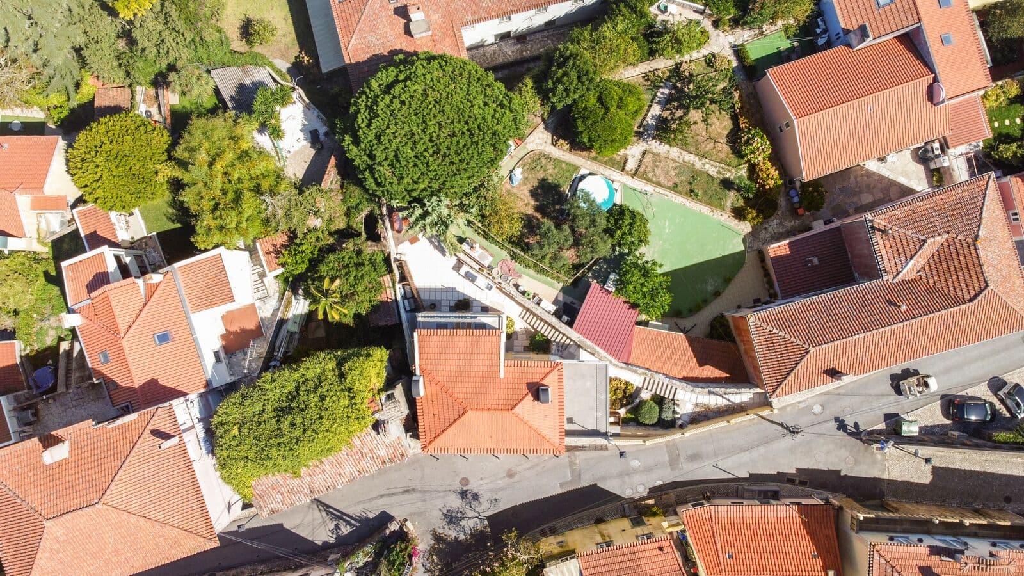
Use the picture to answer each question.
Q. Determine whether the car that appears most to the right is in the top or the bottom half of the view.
bottom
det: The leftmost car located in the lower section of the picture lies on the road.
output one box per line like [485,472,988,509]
[898,373,937,397]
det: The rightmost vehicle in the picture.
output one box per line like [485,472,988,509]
[996,375,1024,419]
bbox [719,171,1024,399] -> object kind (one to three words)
house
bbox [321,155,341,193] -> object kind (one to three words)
shed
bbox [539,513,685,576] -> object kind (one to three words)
house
